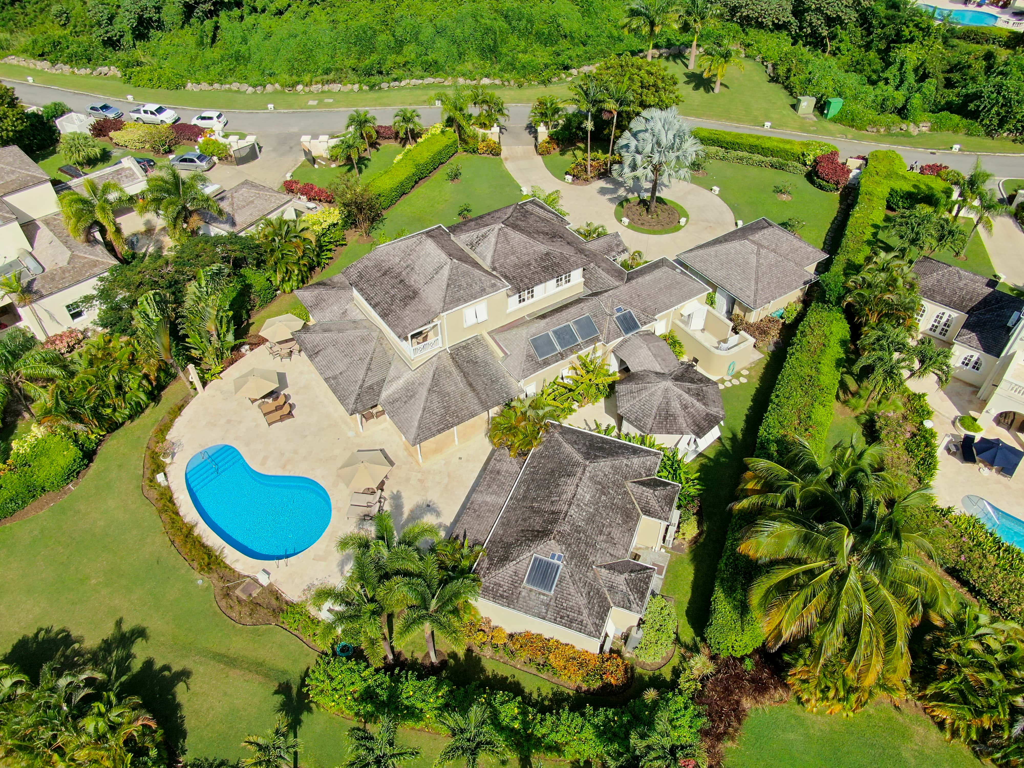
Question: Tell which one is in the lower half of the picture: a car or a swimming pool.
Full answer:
Looking in the lower half of the picture, you will find a swimming pool.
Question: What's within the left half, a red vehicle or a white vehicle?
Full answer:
The feature located within the left half is a white vehicle.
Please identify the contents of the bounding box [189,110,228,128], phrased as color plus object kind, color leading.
white car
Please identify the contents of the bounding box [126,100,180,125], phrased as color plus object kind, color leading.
white truck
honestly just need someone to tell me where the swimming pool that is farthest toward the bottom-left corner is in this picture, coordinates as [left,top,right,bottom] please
[181,441,336,564]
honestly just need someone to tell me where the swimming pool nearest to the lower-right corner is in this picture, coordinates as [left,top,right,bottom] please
[957,491,1024,557]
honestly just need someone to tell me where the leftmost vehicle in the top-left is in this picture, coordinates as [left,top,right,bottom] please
[80,100,125,119]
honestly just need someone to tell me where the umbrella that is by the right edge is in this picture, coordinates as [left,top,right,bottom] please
[969,432,1024,472]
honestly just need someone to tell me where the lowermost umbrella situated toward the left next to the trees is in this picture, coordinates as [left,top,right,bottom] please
[338,448,391,490]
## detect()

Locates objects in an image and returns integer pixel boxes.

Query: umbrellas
[259,313,306,350]
[236,372,284,410]
[338,448,391,490]
[969,432,1024,472]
